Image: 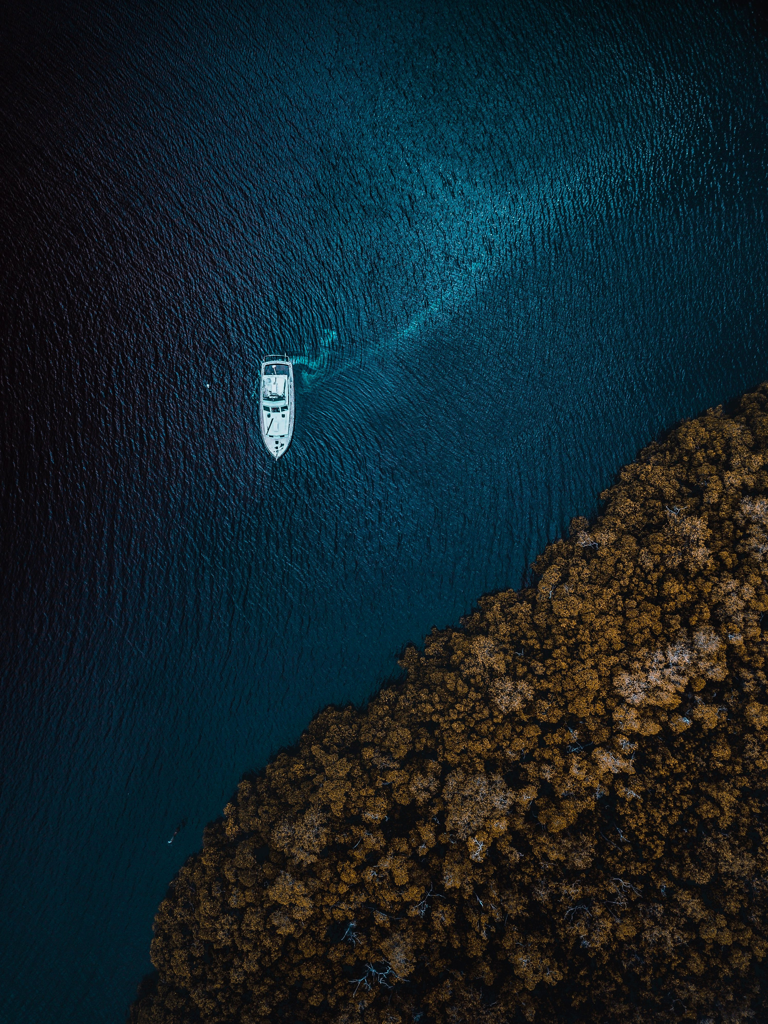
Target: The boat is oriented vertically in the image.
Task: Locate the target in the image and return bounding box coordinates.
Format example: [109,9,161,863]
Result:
[259,353,296,461]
